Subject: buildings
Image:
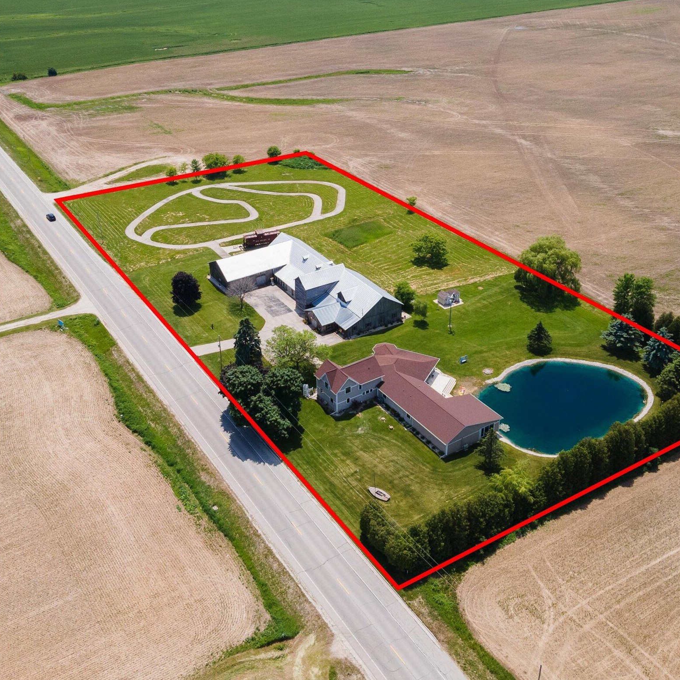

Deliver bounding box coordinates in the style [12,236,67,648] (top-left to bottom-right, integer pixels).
[437,286,458,305]
[207,232,403,340]
[313,342,503,458]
